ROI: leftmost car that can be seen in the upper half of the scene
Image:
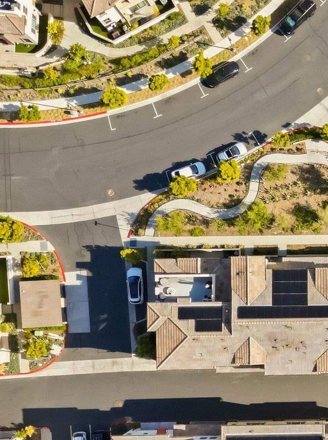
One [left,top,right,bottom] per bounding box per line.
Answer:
[171,159,206,179]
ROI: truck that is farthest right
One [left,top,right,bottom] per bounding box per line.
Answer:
[278,0,319,38]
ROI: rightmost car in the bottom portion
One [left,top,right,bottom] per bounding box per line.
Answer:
[126,268,143,304]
